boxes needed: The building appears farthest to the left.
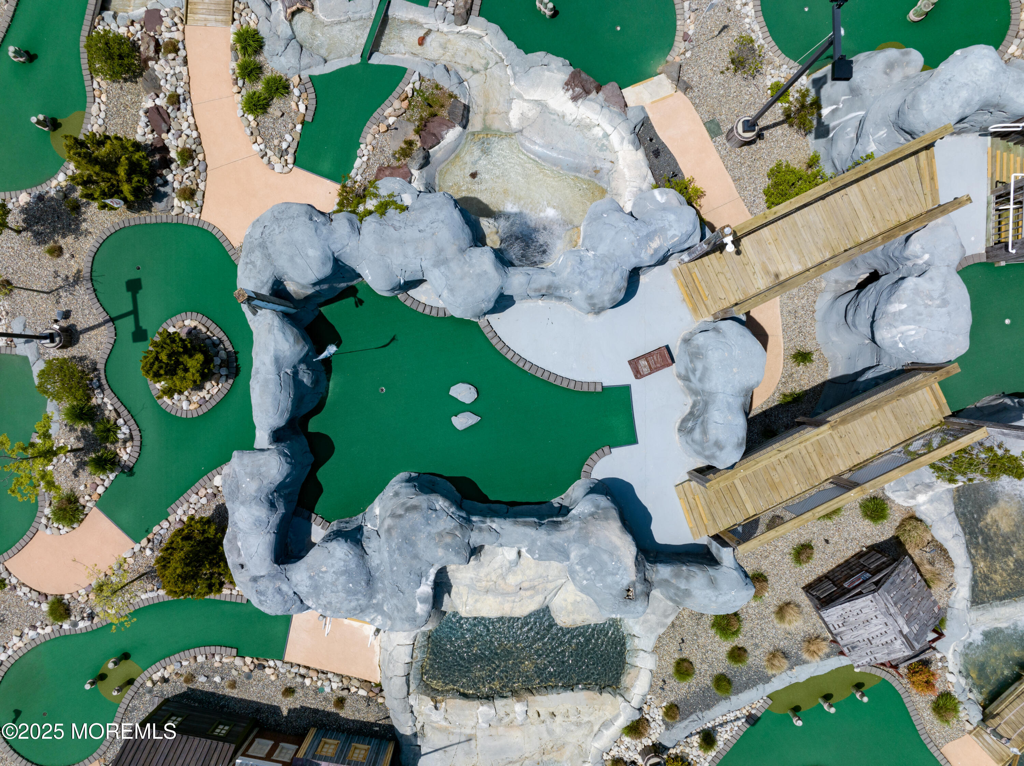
[117,698,256,766]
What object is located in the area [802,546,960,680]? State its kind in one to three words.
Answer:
shed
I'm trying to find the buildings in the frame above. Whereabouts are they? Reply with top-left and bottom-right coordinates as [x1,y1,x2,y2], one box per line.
[288,725,394,766]
[802,546,960,680]
[117,698,256,766]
